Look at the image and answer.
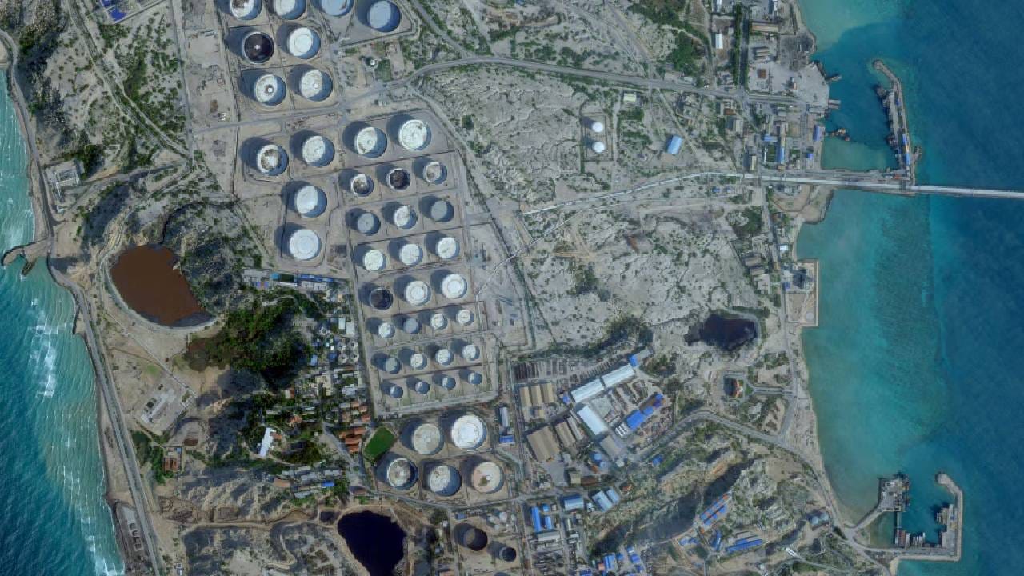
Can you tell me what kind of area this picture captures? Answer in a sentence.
This image shows a port.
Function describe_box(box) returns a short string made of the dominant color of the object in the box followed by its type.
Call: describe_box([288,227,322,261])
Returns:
white storage tank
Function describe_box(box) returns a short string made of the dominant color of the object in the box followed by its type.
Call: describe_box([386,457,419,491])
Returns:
gray storage tank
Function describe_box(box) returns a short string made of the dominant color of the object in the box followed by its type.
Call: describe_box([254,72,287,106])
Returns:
white storage tank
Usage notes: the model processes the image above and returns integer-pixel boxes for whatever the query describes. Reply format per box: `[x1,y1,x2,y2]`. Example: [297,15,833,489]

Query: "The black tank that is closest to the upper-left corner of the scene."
[242,31,275,64]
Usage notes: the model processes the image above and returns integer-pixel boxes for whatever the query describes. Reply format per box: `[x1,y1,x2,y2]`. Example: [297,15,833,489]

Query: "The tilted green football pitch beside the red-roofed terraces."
[362,424,397,458]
